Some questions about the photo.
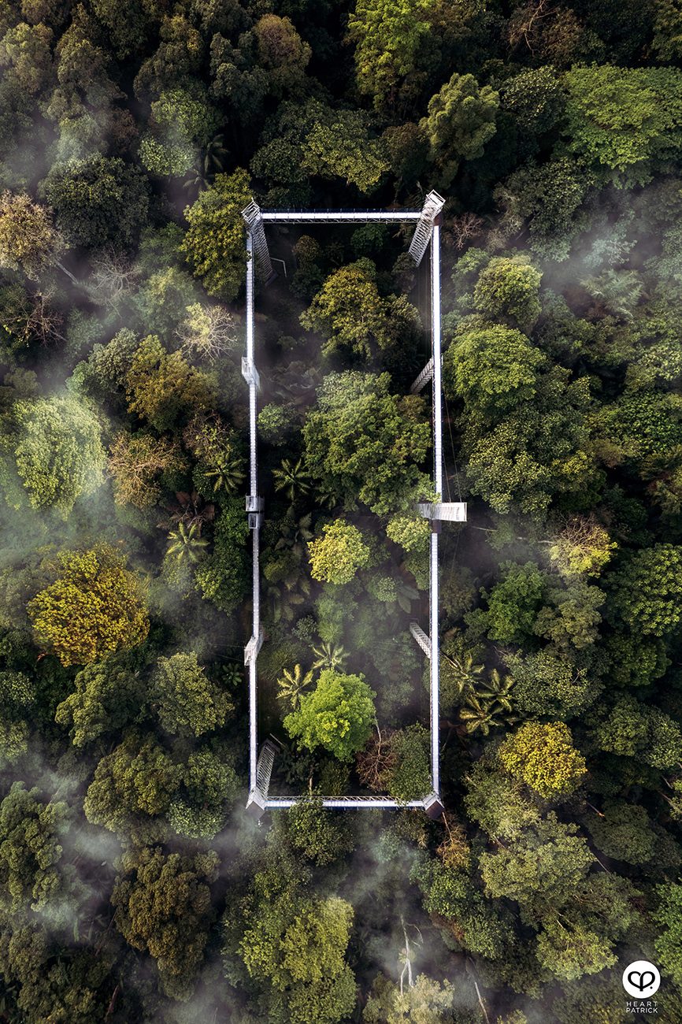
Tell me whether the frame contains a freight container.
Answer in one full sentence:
No, there appears to be no freight container in this shot.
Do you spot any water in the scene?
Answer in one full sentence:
No, the picture contains no water.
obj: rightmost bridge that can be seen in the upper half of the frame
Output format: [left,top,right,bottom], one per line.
[431,226,444,503]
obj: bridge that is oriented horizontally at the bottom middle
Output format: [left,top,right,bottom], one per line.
[266,795,425,810]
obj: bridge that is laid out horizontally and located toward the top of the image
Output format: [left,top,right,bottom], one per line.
[261,208,427,223]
